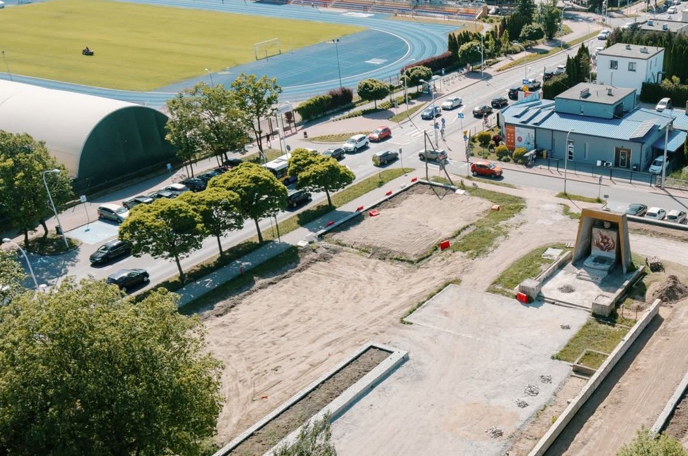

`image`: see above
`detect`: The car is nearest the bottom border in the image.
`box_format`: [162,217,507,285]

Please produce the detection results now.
[103,266,151,289]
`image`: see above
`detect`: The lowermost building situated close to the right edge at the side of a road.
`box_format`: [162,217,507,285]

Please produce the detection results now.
[497,82,688,175]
